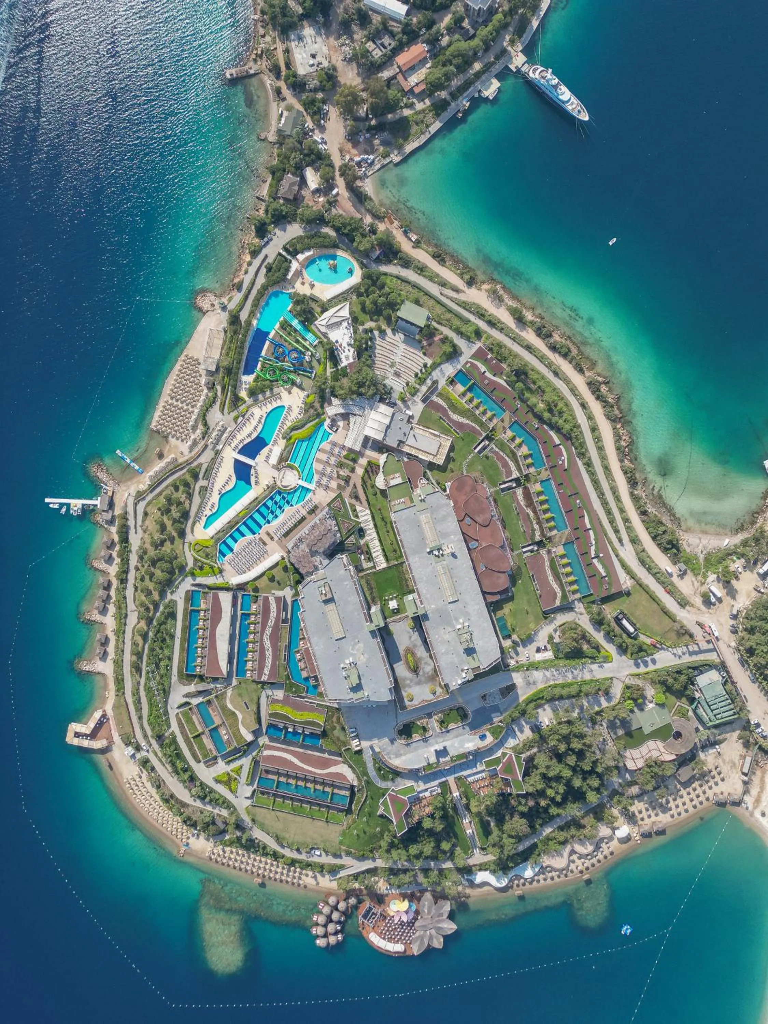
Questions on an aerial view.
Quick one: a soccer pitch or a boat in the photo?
boat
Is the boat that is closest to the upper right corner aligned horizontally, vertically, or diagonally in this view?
diagonally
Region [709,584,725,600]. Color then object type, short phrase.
white vehicle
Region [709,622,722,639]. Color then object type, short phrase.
white vehicle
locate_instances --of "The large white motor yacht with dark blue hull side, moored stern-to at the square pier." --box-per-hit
[511,65,589,123]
